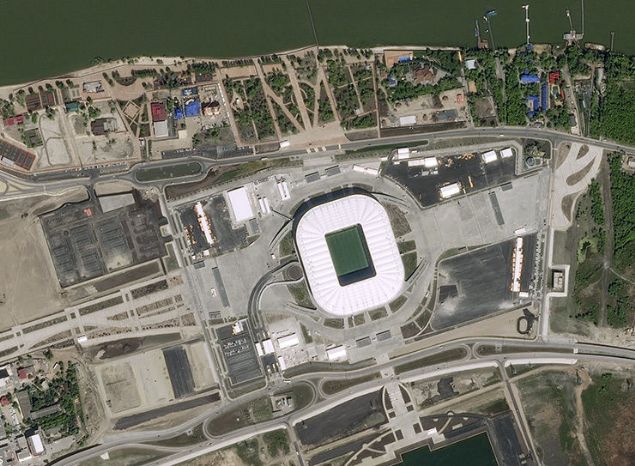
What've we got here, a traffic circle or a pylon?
traffic circle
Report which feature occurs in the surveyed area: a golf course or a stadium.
stadium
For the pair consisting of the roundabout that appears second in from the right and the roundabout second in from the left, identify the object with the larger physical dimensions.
the roundabout second in from the left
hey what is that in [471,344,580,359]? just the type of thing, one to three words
roundabout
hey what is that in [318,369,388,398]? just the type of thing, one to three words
roundabout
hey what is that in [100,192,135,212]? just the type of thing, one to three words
building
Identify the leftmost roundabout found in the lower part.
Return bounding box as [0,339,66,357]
[203,379,316,440]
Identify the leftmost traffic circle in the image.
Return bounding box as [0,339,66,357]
[130,156,206,187]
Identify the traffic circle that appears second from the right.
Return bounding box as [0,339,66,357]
[392,344,469,375]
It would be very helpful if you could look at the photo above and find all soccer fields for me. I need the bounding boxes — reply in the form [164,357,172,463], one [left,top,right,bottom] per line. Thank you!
[329,226,373,285]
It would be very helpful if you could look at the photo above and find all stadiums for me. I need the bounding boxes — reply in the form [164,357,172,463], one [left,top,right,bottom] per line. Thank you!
[299,195,406,316]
